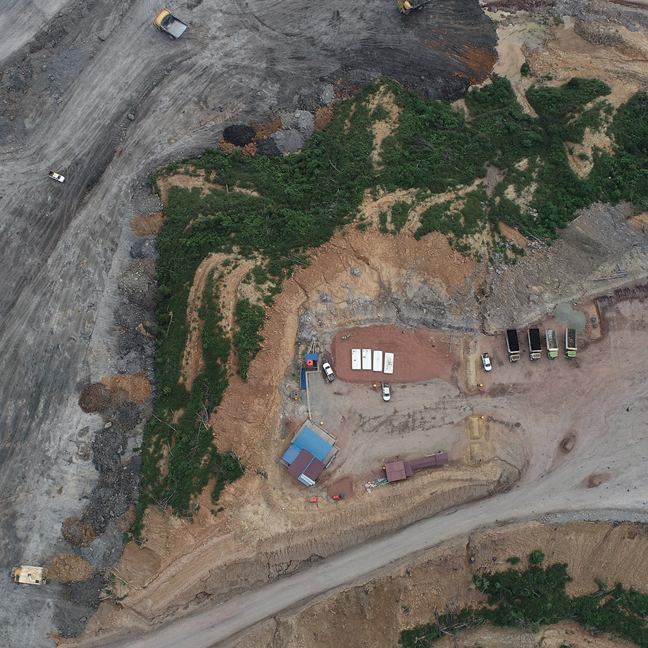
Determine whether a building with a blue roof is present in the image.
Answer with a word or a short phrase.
Yes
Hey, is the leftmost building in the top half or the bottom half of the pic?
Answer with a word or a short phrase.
bottom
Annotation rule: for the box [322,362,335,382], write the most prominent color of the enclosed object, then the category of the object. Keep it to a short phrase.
white vehicle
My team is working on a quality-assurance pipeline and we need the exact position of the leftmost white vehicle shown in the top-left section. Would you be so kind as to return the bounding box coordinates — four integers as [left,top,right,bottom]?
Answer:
[47,170,65,183]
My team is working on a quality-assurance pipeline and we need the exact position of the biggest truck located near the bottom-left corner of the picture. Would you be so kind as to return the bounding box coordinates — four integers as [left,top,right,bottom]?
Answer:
[11,565,49,586]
